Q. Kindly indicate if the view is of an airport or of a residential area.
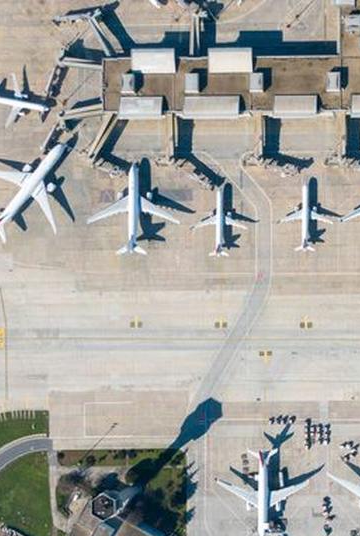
airport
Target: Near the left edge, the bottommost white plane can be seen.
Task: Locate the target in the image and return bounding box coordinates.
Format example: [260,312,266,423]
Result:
[0,145,64,241]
